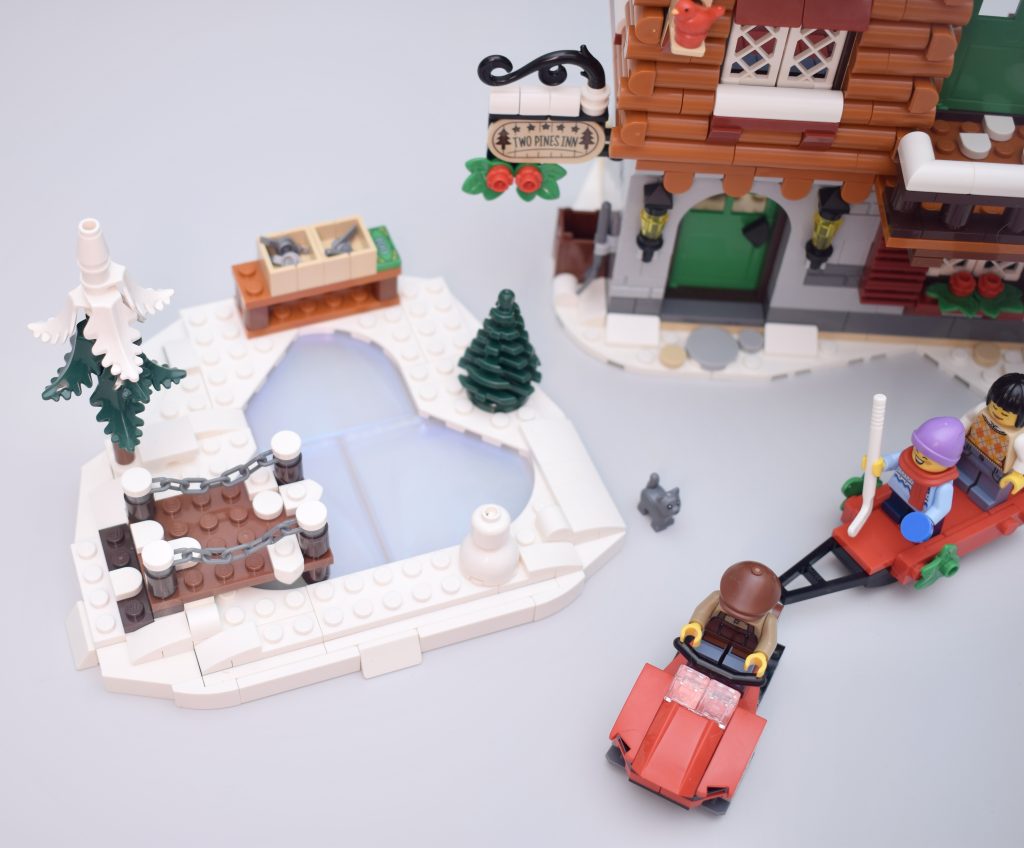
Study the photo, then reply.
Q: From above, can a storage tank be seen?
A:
No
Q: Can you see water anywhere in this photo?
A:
Yes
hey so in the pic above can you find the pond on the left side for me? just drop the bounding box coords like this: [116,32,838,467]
[67,277,623,711]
